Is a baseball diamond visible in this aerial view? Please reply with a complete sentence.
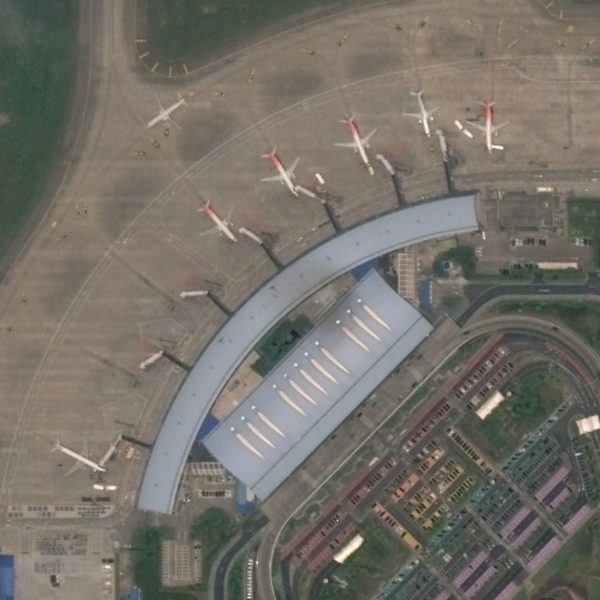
No, the scene contains no baseball diamond.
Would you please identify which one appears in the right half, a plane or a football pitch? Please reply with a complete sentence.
It is a plane that can be seen in the right half.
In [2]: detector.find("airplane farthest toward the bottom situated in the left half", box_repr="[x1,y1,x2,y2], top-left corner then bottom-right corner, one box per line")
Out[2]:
[51,433,106,480]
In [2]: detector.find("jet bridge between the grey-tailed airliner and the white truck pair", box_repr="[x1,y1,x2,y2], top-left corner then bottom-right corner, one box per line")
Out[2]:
[436,129,455,195]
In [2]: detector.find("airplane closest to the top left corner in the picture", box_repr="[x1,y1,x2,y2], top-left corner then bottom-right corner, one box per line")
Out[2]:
[148,91,189,128]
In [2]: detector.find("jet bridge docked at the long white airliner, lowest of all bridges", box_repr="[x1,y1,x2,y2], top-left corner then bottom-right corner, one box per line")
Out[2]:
[99,435,154,468]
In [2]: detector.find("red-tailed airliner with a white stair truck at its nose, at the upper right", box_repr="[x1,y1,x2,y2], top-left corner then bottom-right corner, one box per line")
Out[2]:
[468,103,510,153]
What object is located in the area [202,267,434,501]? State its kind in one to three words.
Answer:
building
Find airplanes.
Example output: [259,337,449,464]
[338,116,378,165]
[148,91,189,128]
[468,103,510,153]
[51,433,106,480]
[262,148,302,197]
[404,92,442,138]
[198,199,238,243]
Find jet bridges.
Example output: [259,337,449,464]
[376,154,405,210]
[179,289,231,318]
[99,435,154,468]
[140,350,189,371]
[296,185,343,236]
[240,227,284,272]
[436,129,455,195]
